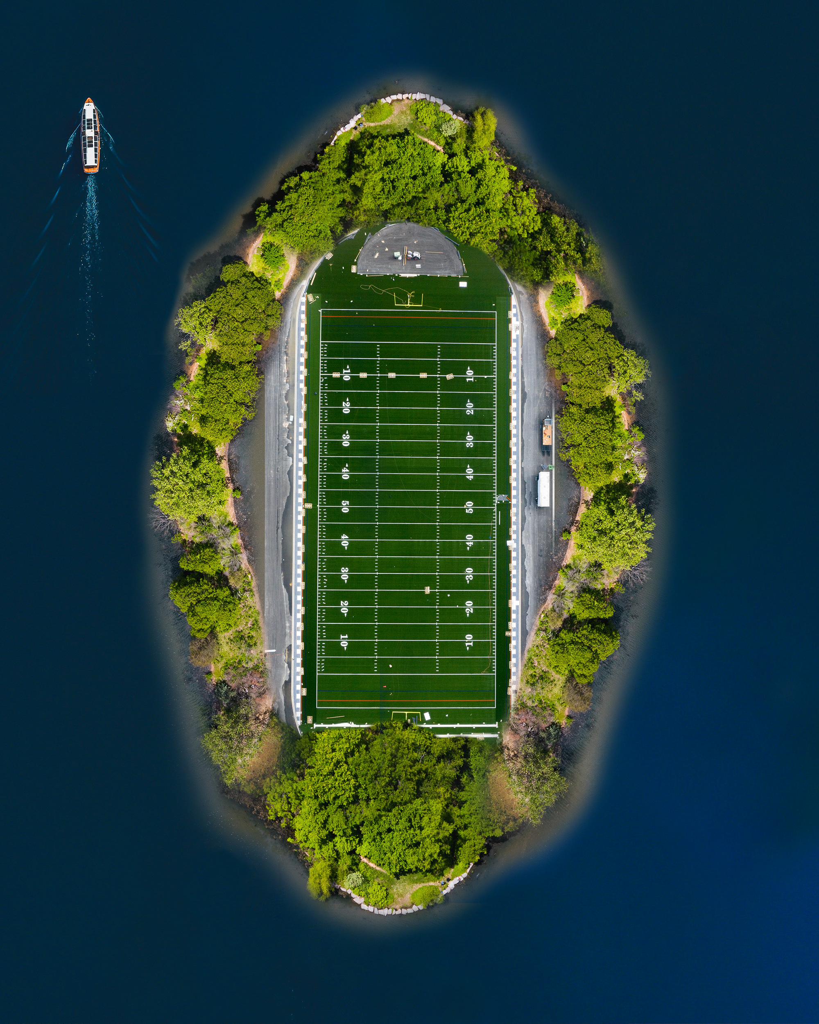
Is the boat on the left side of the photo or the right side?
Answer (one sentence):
You can find the boat on the left side of the picture.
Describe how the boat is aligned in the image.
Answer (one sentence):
The boat is laid out up and down.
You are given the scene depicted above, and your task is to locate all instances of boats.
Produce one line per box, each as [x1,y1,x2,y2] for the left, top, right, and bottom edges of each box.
[80,98,101,174]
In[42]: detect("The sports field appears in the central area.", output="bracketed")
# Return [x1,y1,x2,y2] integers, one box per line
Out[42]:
[300,219,512,740]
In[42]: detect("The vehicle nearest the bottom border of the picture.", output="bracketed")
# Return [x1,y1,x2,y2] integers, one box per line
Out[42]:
[538,472,552,508]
